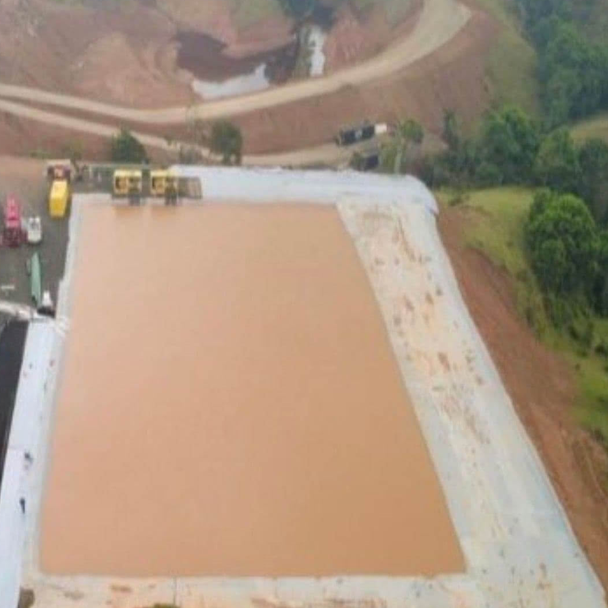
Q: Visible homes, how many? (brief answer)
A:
0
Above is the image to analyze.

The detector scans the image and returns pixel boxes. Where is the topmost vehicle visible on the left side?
[46,159,70,180]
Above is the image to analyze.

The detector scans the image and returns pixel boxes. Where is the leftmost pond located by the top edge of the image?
[176,30,302,99]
